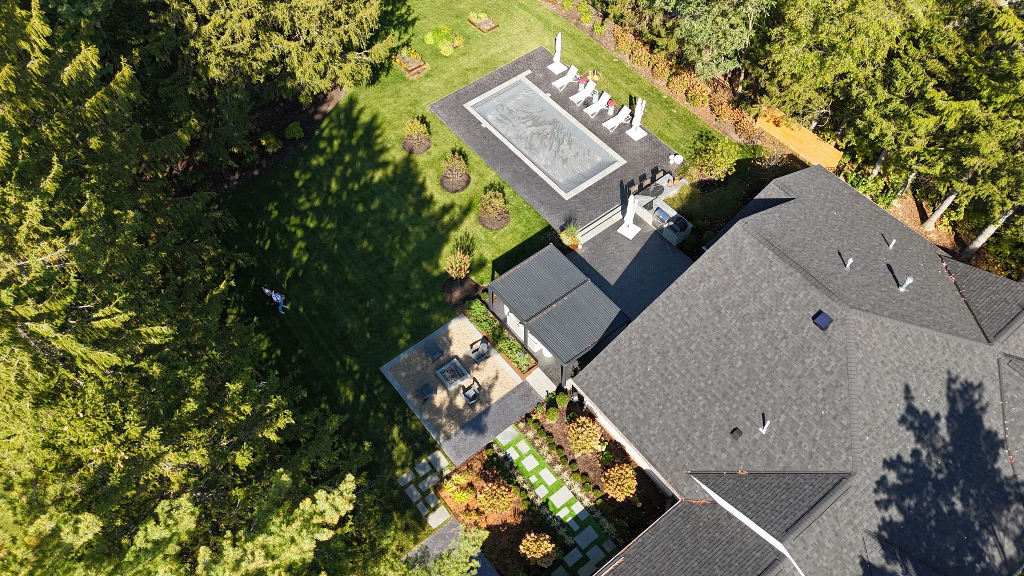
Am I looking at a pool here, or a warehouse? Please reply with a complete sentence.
There is a pool in the scene.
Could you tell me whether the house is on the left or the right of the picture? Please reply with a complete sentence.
The house appears in the right half of the scene.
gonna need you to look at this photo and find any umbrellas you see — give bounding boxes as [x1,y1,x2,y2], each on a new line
[546,32,568,75]
[625,96,651,139]
[617,195,645,238]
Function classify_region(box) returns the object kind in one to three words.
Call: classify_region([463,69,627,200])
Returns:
swimming pool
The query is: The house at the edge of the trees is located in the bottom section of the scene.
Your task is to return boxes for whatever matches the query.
[567,161,1024,576]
